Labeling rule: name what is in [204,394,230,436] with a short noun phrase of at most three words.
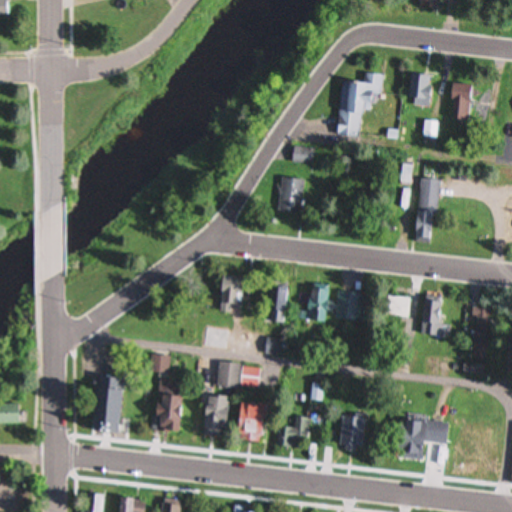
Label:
house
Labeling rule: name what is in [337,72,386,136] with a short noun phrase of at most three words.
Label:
building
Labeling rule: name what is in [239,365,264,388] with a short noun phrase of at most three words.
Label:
shed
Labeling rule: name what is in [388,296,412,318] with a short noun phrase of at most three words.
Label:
building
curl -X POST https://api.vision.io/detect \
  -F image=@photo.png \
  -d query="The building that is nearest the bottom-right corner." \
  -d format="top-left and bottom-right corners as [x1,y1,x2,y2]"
[399,412,449,462]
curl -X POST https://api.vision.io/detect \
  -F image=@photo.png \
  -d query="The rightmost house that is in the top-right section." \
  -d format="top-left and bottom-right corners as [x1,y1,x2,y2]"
[452,82,474,120]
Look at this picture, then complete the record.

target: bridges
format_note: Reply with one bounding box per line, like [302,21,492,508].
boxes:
[34,196,66,282]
